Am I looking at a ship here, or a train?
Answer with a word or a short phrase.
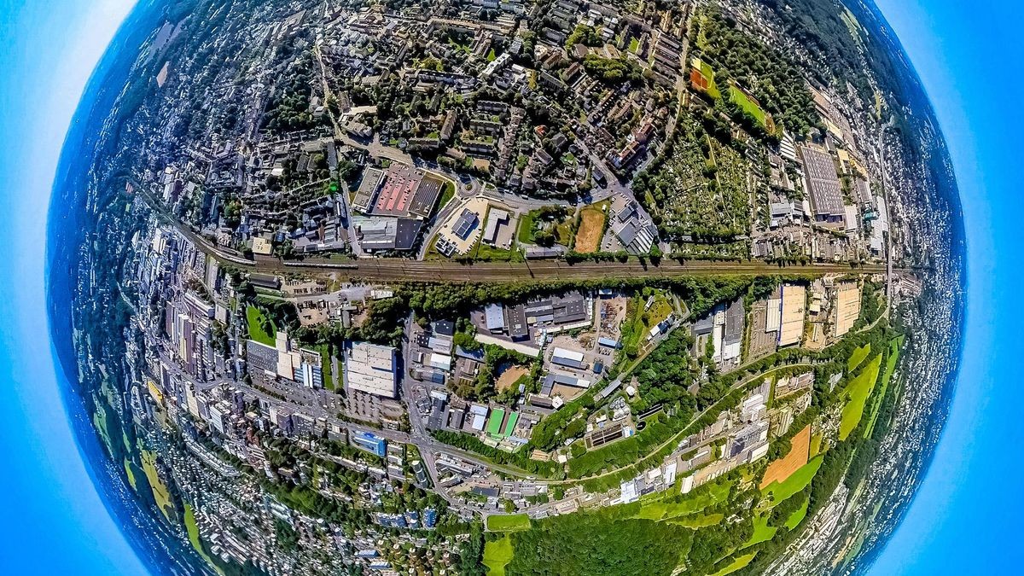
train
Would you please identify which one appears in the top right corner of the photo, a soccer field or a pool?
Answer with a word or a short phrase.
soccer field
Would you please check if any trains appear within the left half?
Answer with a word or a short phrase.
Yes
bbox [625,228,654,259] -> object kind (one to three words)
building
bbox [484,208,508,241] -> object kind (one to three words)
building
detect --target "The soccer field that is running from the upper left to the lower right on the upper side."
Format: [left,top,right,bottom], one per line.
[727,82,776,132]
